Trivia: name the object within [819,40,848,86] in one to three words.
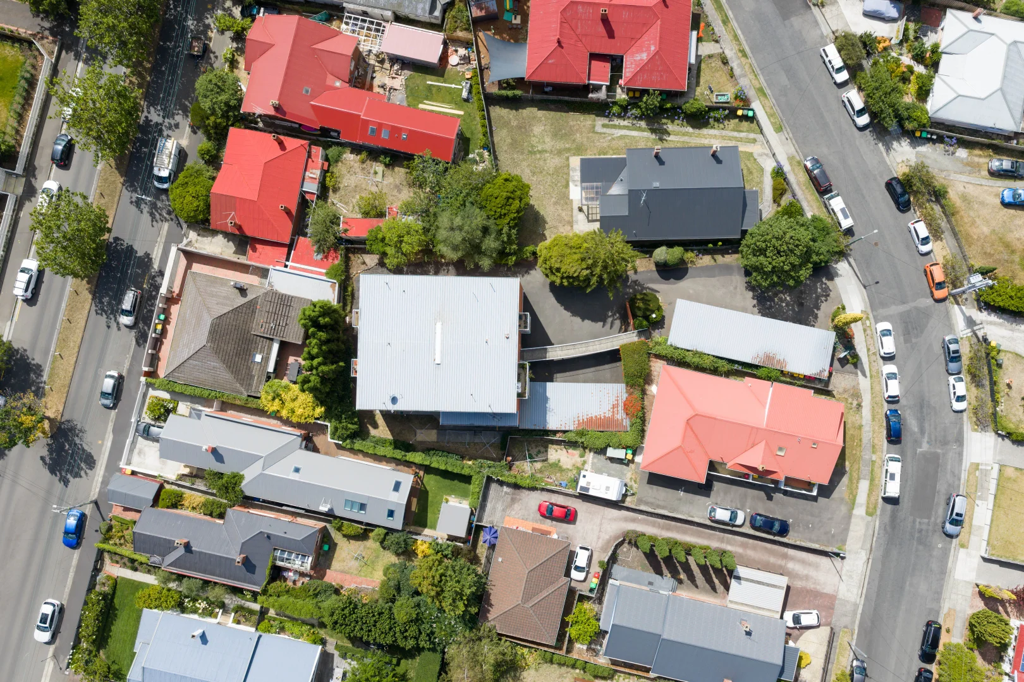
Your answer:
vehicle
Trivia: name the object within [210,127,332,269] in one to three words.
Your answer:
house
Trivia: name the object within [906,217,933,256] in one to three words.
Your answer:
car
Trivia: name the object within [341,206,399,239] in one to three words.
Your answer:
shed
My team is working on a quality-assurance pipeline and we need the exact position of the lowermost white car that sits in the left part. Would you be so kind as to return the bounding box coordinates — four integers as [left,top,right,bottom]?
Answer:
[35,597,62,645]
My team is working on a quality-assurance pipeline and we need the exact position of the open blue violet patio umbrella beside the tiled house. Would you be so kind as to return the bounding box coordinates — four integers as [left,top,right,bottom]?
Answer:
[479,525,498,546]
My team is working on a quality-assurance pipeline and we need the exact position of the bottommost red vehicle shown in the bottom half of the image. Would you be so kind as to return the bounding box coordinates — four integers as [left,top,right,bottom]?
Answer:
[537,501,577,521]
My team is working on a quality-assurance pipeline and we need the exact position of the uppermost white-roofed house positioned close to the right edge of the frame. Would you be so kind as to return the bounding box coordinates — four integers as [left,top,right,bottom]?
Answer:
[923,5,1024,138]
